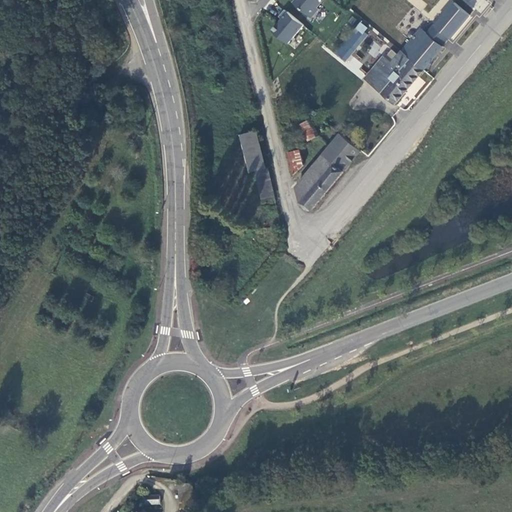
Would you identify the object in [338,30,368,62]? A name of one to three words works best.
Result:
shed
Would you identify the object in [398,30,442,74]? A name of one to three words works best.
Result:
house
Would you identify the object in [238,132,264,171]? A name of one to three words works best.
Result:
barn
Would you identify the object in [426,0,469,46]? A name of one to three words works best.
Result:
house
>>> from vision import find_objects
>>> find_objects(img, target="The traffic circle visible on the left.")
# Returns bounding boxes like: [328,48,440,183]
[116,350,258,471]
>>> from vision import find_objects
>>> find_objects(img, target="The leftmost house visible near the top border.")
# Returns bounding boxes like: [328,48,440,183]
[271,13,304,46]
